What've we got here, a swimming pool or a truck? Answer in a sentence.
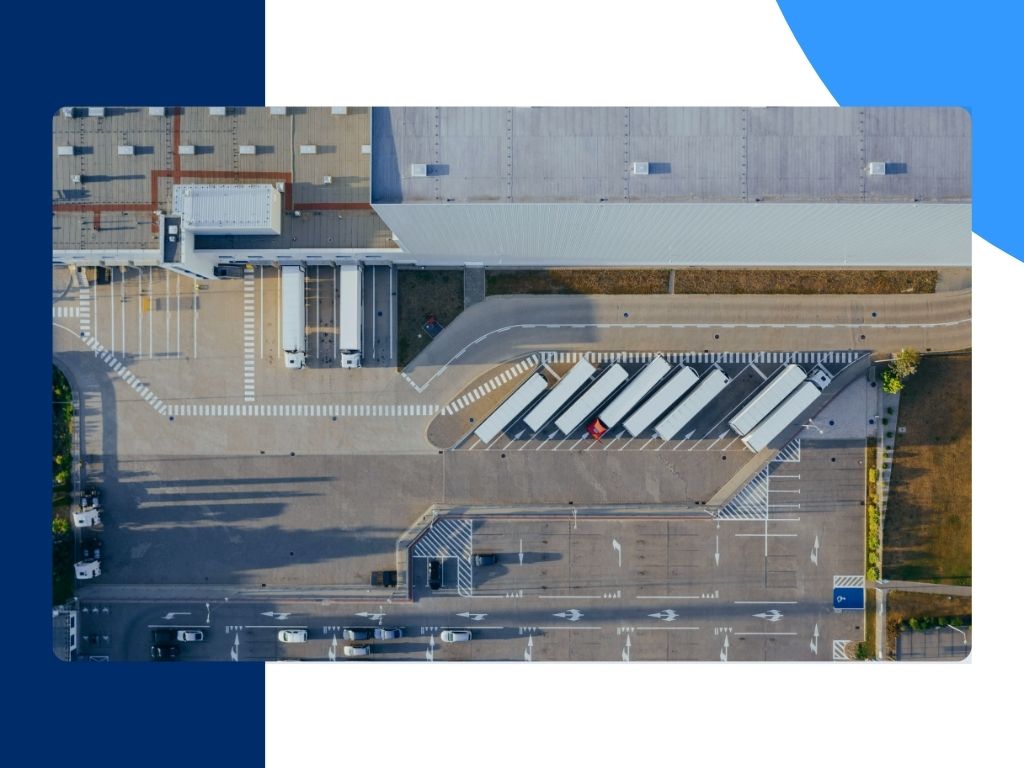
Visible in the photo is a truck.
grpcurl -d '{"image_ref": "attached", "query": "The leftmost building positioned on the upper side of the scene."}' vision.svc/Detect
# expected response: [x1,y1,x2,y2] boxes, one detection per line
[0,0,412,282]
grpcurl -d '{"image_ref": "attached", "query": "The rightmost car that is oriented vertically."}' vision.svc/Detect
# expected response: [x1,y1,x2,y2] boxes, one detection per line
[427,559,441,588]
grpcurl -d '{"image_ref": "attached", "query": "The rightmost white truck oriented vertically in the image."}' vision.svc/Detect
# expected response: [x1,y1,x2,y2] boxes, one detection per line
[340,266,361,369]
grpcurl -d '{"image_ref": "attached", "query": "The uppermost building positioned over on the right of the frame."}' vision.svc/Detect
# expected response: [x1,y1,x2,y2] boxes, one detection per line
[371,0,1024,272]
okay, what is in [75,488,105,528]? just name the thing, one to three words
truck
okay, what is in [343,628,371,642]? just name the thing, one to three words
car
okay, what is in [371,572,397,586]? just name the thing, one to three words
vehicle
